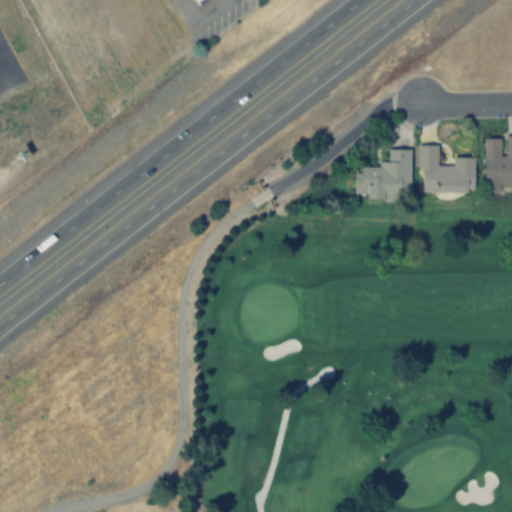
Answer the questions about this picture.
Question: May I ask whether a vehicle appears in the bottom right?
No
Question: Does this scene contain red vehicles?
No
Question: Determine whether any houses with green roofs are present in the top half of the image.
No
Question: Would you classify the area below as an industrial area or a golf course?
golf course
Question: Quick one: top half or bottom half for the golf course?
bottom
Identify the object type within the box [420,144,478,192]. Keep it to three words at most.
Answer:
house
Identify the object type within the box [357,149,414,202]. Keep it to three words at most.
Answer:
house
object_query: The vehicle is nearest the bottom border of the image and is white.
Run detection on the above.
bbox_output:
[24,236,57,264]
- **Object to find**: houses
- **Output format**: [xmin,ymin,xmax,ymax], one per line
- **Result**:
[420,144,478,192]
[357,149,414,202]
[486,136,512,192]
